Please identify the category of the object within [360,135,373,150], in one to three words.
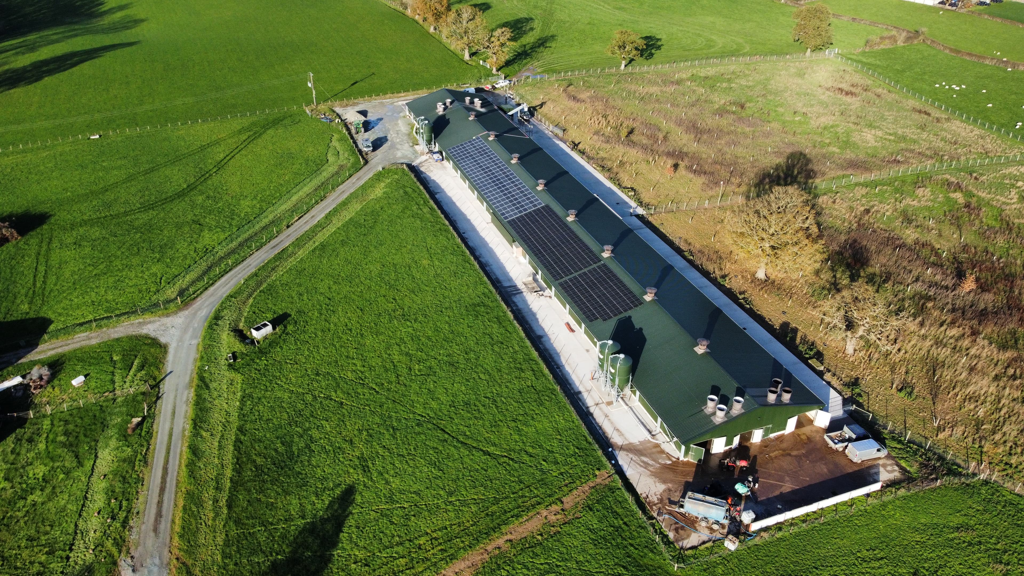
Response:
vehicle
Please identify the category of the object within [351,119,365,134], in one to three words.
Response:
work vehicle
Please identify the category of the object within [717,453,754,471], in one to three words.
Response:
work vehicle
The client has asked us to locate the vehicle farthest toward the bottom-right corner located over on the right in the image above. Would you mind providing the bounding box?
[845,437,890,463]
